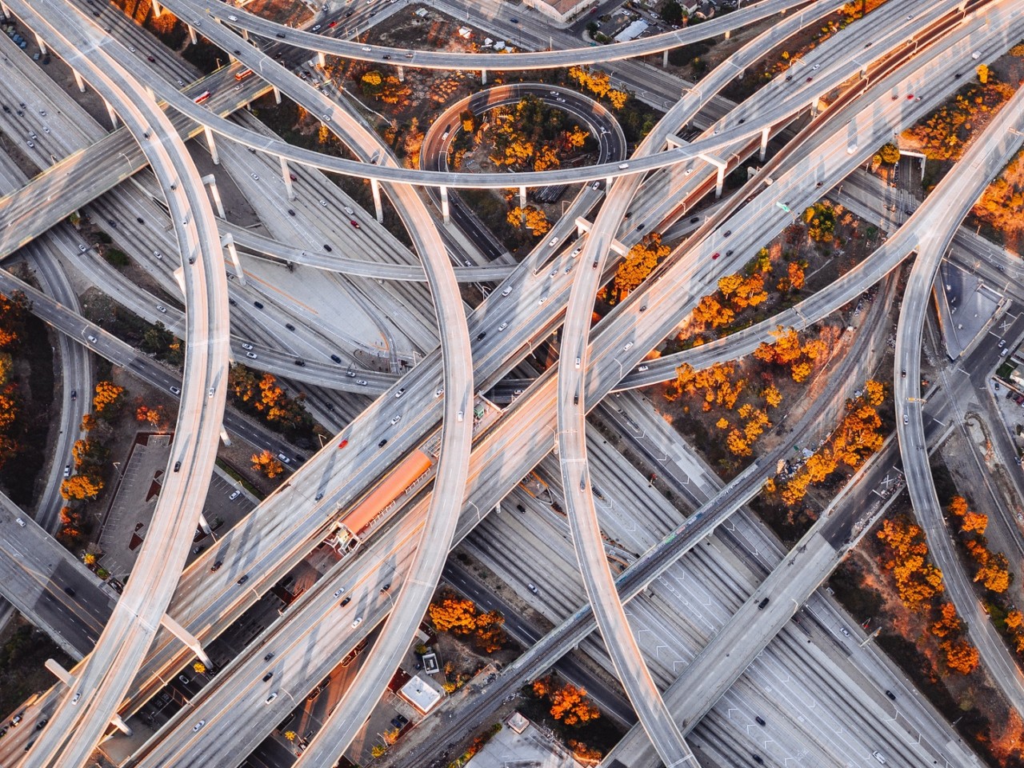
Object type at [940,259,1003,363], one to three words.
building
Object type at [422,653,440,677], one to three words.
building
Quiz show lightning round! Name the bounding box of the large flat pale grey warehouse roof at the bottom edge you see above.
[466,713,601,768]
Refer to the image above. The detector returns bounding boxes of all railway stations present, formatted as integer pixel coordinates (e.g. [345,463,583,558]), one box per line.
[331,428,441,560]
